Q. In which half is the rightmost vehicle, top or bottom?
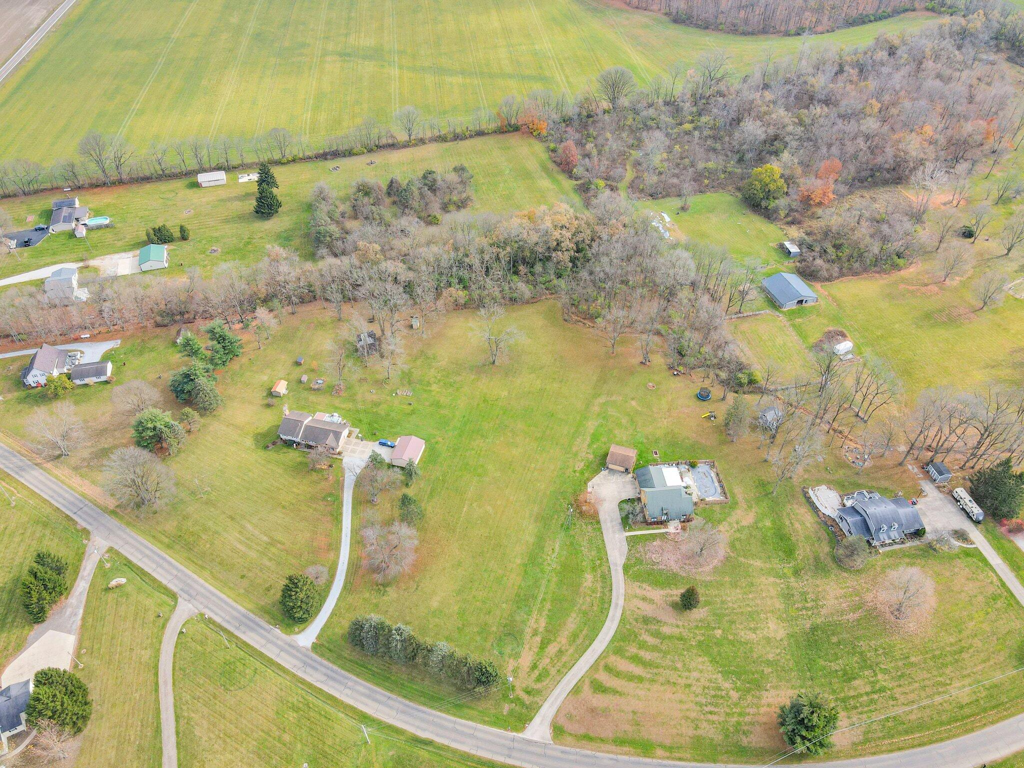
bottom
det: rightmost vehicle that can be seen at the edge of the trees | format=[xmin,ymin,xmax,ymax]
[954,486,987,521]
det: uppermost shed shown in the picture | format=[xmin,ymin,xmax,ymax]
[197,171,227,188]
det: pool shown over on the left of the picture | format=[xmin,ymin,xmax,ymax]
[80,216,116,228]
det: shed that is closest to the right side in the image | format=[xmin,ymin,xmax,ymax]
[928,460,951,482]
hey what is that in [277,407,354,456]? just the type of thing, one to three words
house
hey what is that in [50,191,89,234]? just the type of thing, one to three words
house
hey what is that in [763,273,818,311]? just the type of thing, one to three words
barn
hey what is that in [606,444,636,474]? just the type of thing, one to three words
building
